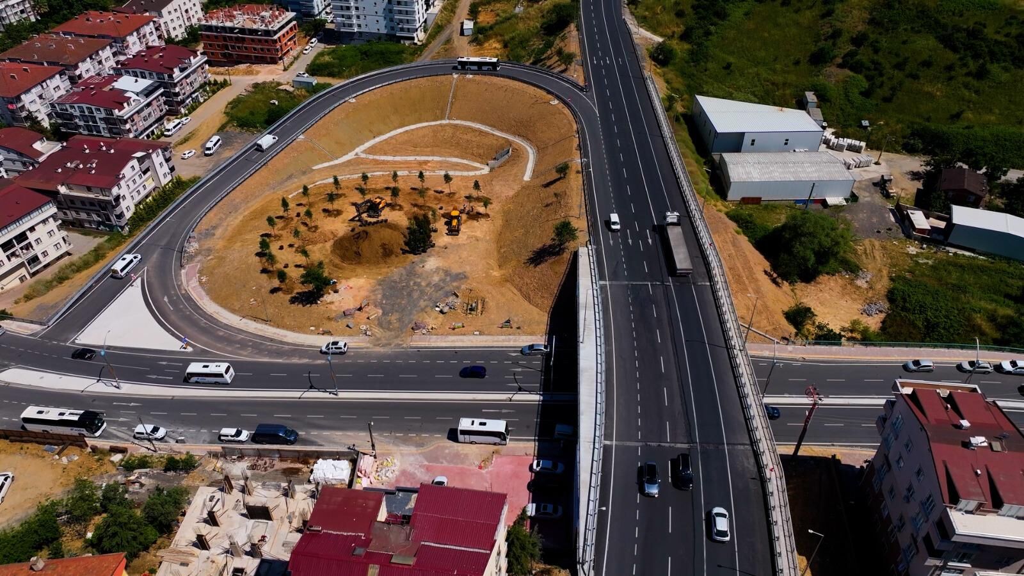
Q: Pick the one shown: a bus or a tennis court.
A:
bus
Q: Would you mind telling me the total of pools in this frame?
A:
zero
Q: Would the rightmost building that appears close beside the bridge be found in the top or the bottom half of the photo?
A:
bottom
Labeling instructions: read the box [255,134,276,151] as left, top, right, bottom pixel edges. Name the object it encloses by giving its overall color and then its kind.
white vehicle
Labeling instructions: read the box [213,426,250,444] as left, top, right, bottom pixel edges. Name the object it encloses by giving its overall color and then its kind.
white vehicle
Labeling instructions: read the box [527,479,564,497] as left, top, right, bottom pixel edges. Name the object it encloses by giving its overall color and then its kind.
black car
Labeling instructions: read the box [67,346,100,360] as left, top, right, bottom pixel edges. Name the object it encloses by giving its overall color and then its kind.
black car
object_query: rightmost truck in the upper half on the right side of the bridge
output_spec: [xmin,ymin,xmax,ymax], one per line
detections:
[875,174,901,196]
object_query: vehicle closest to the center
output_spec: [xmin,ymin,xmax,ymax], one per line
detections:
[520,342,550,356]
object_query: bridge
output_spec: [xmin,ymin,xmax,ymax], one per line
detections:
[571,78,800,576]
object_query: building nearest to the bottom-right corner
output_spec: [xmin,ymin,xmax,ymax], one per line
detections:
[855,375,1024,576]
